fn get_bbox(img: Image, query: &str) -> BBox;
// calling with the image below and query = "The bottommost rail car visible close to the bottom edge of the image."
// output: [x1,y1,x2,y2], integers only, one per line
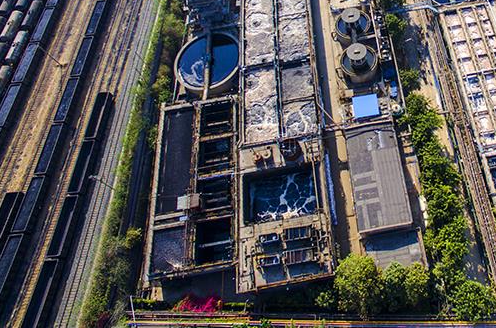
[20,304,48,328]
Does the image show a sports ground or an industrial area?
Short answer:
industrial area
